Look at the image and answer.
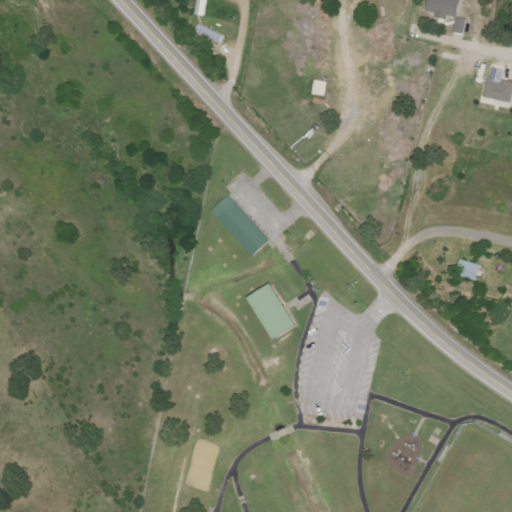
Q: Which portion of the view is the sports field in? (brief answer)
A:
bottom right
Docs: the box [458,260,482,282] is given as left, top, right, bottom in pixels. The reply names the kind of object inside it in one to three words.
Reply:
house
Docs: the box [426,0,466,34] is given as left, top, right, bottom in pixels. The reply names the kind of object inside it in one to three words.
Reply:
house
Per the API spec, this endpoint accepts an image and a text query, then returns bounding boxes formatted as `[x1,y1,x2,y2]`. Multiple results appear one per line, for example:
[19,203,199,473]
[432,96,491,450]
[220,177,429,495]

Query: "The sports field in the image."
[414,424,512,512]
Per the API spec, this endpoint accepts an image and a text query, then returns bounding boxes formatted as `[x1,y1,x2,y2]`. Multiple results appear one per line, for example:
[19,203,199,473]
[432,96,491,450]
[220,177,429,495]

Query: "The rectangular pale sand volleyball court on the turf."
[188,440,218,491]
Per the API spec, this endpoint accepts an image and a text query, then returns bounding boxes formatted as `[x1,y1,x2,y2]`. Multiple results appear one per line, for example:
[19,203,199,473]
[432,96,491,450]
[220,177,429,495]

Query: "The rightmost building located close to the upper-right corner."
[484,66,512,102]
